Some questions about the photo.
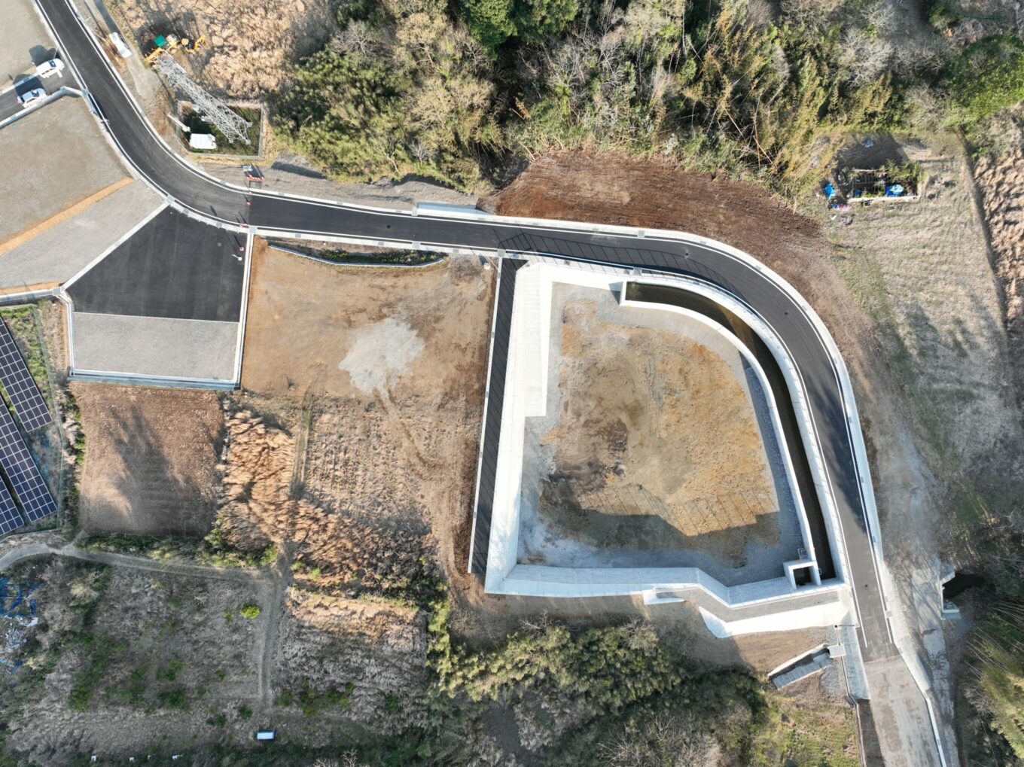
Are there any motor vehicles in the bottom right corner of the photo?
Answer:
No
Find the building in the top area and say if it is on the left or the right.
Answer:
left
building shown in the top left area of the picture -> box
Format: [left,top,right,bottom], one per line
[185,132,218,152]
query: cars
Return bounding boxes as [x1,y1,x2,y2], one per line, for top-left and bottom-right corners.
[20,88,50,107]
[35,62,70,81]
[111,34,134,63]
